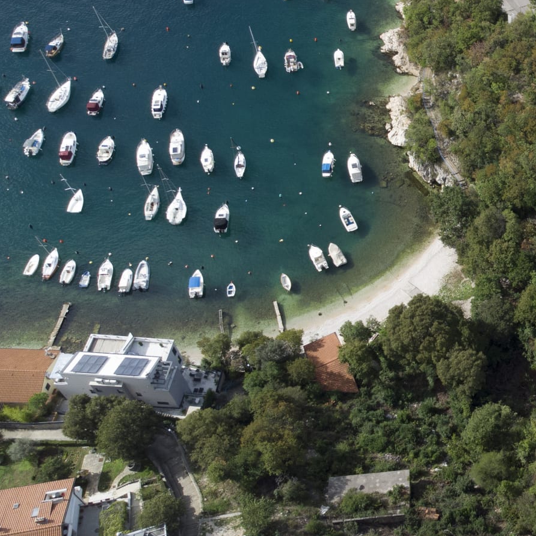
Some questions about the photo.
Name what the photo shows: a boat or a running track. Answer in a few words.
boat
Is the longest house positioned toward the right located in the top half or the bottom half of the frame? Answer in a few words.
bottom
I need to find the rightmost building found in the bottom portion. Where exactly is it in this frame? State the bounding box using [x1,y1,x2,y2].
[305,332,359,393]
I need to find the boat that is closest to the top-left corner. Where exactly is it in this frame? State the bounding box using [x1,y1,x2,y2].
[9,20,29,55]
